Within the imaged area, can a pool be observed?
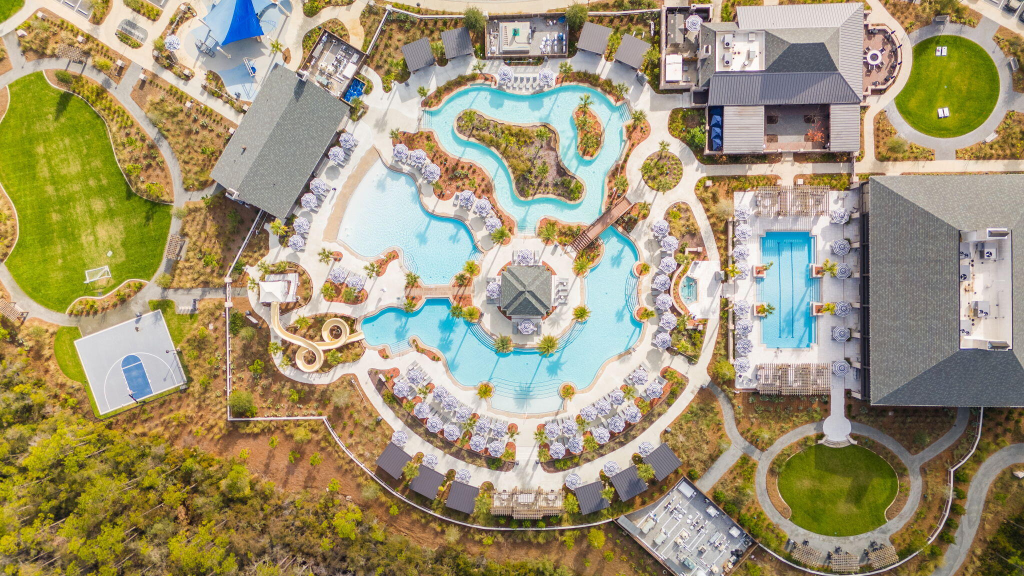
Yes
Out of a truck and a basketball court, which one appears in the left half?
basketball court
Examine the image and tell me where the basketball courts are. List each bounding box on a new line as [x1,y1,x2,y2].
[74,309,187,415]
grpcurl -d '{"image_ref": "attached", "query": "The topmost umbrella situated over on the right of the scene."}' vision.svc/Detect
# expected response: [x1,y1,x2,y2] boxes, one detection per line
[685,15,702,32]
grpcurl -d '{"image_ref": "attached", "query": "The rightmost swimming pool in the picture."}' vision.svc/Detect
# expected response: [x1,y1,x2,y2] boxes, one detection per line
[754,229,822,350]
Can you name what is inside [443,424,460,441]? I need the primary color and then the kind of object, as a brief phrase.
white umbrella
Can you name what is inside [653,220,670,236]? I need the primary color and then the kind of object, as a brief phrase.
white umbrella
